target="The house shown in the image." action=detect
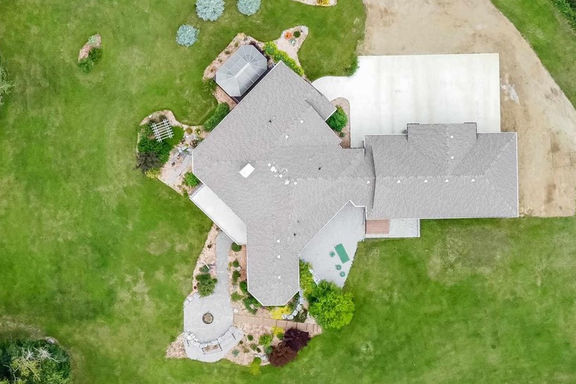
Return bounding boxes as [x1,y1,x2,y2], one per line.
[191,60,519,306]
